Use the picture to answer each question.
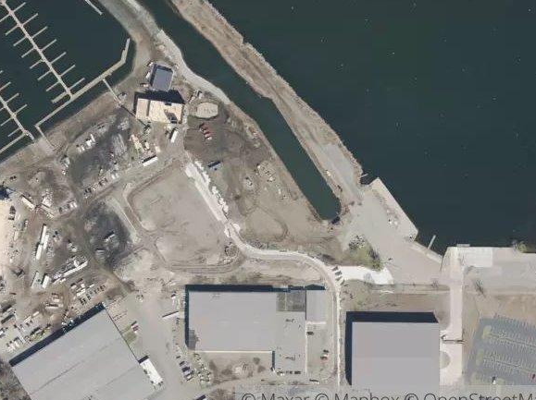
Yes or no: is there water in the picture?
Yes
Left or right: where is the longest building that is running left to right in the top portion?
left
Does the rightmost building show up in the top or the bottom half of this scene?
bottom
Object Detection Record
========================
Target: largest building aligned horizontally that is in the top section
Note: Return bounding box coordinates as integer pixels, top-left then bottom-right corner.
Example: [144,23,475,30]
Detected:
[137,99,184,124]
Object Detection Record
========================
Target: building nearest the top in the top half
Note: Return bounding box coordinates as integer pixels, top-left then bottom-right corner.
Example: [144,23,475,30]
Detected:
[153,68,174,91]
